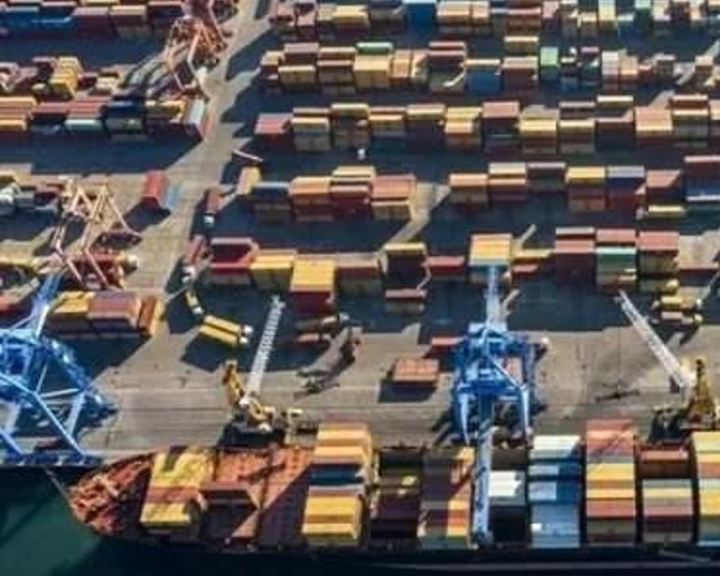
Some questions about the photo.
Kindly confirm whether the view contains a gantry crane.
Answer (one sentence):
Yes, there's a gantry crane down there.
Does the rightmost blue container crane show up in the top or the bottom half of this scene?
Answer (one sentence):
The bottom half of the photo is where the rightmost blue container crane is.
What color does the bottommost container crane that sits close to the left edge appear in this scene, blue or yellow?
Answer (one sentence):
The bottommost container crane that sits close to the left edge looks blue in the image.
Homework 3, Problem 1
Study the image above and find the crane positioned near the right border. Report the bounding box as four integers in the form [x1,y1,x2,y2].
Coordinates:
[595,289,720,444]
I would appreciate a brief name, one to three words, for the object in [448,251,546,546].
container crane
